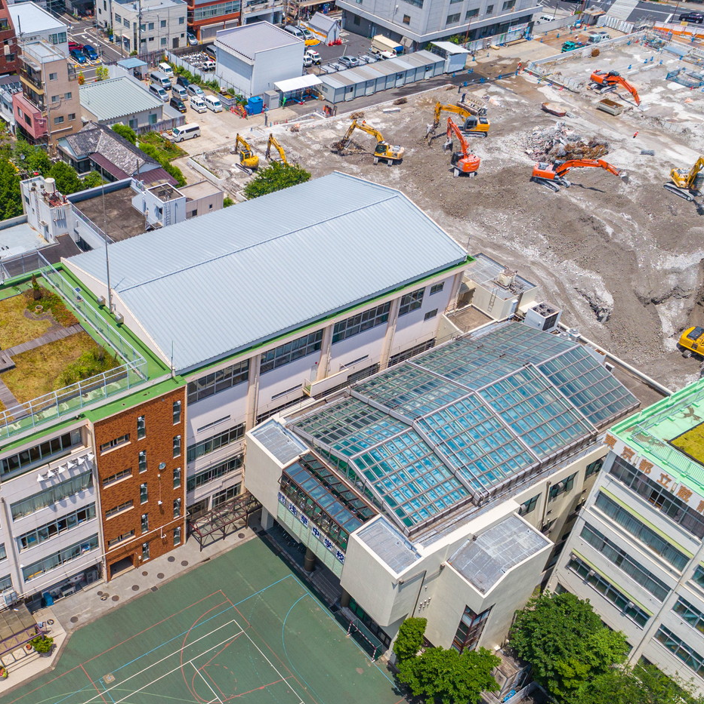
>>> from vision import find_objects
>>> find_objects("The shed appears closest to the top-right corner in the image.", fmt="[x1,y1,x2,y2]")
[579,1,612,25]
